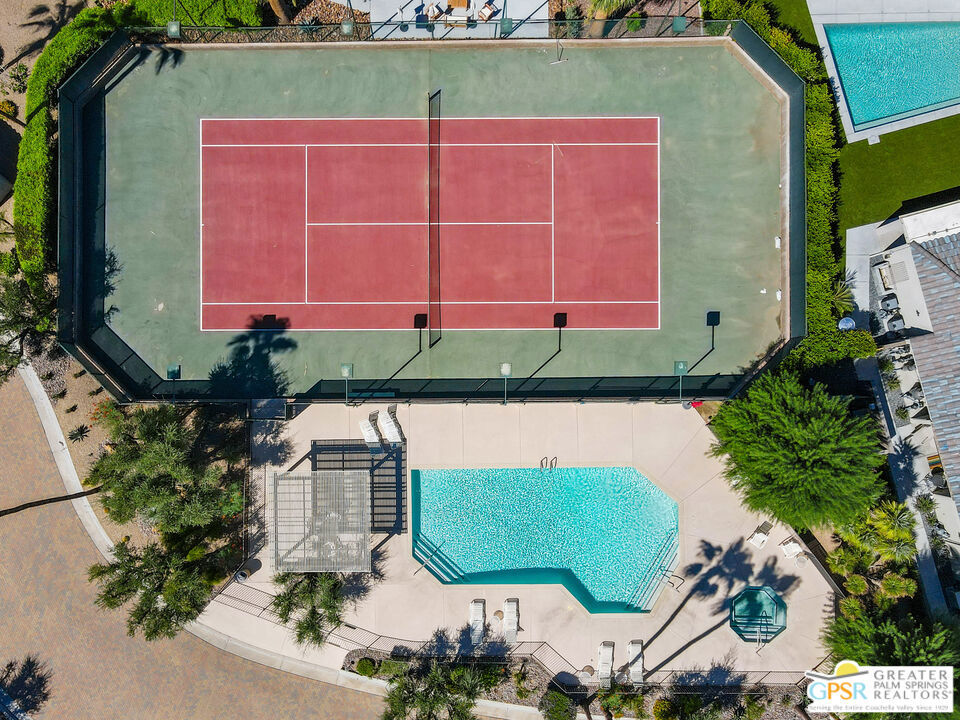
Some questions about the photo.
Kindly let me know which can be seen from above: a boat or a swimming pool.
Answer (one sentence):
I can see a swimming pool in this picture.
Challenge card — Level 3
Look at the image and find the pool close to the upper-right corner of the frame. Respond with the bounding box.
[823,22,960,130]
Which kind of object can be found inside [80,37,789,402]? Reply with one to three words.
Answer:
tennis court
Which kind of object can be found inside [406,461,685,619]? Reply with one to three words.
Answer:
swimming pool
